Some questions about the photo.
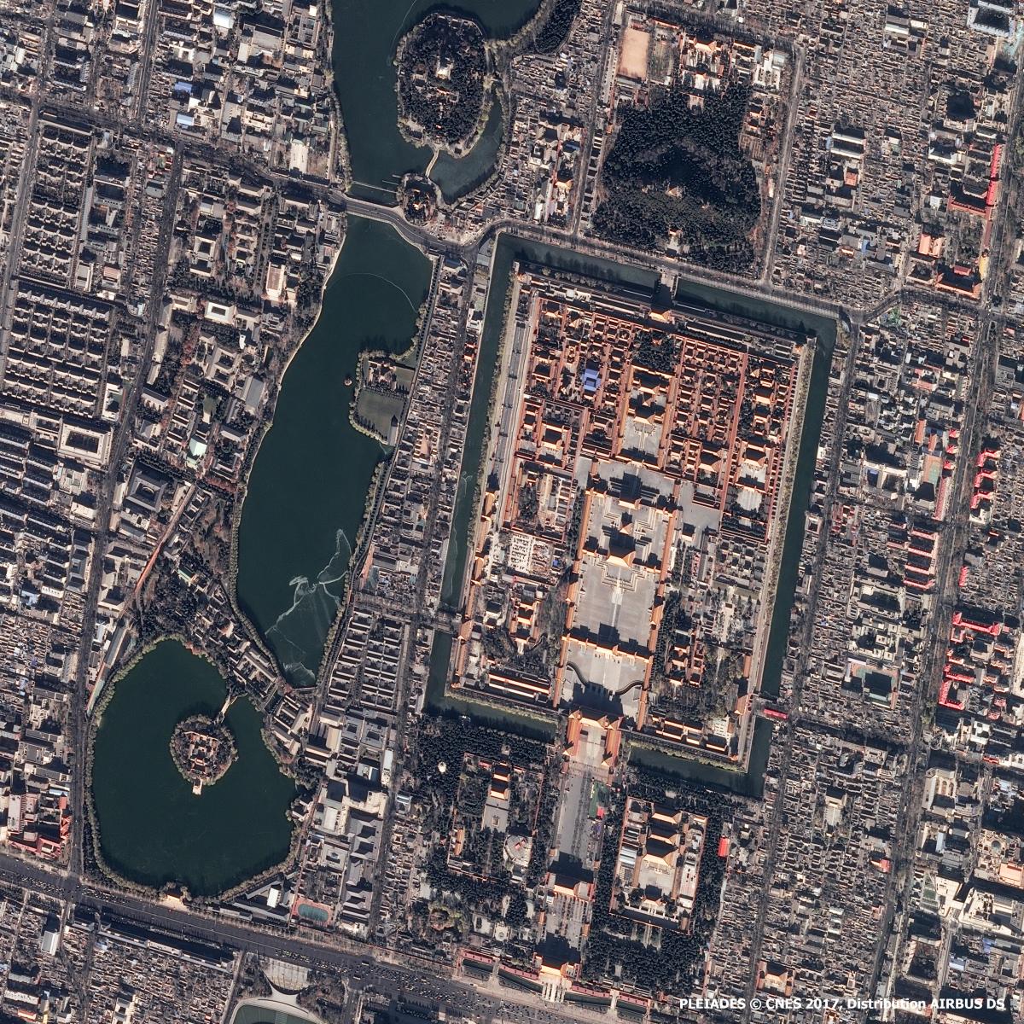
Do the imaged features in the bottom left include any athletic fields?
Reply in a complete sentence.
No, I can find no athletic field in the bottom left.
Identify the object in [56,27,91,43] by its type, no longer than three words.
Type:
building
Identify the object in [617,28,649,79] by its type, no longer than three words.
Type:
sports field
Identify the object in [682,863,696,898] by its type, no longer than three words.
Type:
building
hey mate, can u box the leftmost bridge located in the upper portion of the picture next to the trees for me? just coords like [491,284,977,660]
[343,196,398,222]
